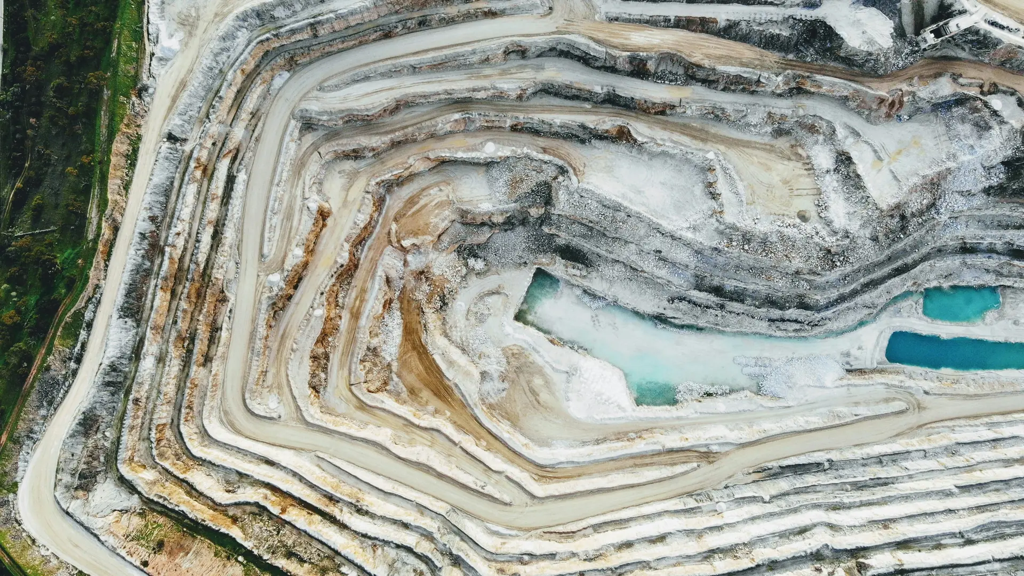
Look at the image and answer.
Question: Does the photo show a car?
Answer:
No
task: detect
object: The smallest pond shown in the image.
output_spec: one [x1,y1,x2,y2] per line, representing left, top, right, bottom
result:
[921,282,1003,323]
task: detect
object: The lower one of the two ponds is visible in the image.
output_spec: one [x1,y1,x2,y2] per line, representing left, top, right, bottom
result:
[885,330,1024,373]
